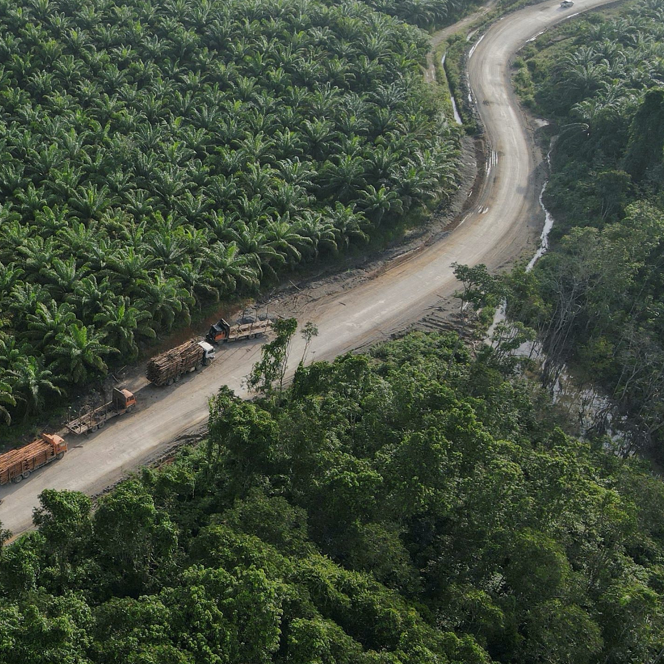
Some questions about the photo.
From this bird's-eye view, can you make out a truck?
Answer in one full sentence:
Yes, the frame does contain a truck.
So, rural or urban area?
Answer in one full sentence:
The land in this view is best described as rural.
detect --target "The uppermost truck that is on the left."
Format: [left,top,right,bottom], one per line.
[204,306,277,345]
